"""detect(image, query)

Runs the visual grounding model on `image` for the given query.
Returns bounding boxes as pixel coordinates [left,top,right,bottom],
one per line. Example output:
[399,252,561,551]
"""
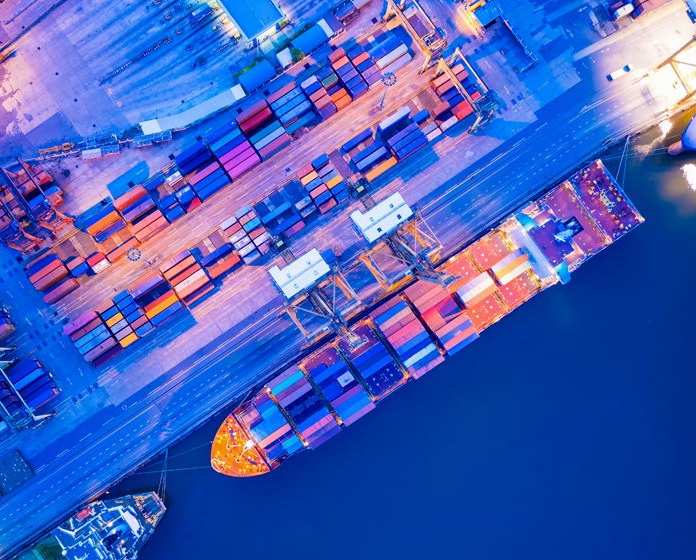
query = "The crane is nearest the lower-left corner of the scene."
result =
[0,356,57,443]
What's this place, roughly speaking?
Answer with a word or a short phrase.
port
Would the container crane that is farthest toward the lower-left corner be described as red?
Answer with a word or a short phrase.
No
